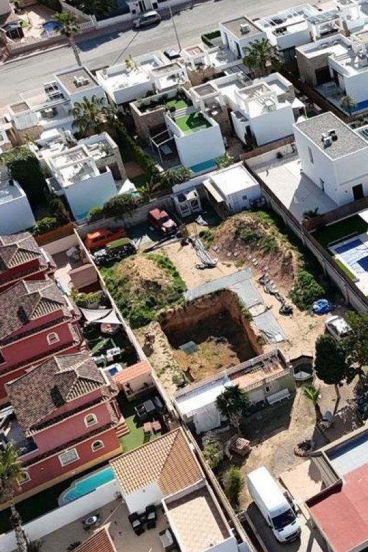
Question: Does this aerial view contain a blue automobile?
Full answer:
No, I find no blue automobile anywhere in the image.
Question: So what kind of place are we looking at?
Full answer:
It's a residential area.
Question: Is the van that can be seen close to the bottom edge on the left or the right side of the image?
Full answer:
It is on the right.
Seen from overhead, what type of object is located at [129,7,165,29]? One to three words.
car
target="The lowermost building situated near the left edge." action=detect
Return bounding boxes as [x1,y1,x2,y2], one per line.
[0,367,99,511]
